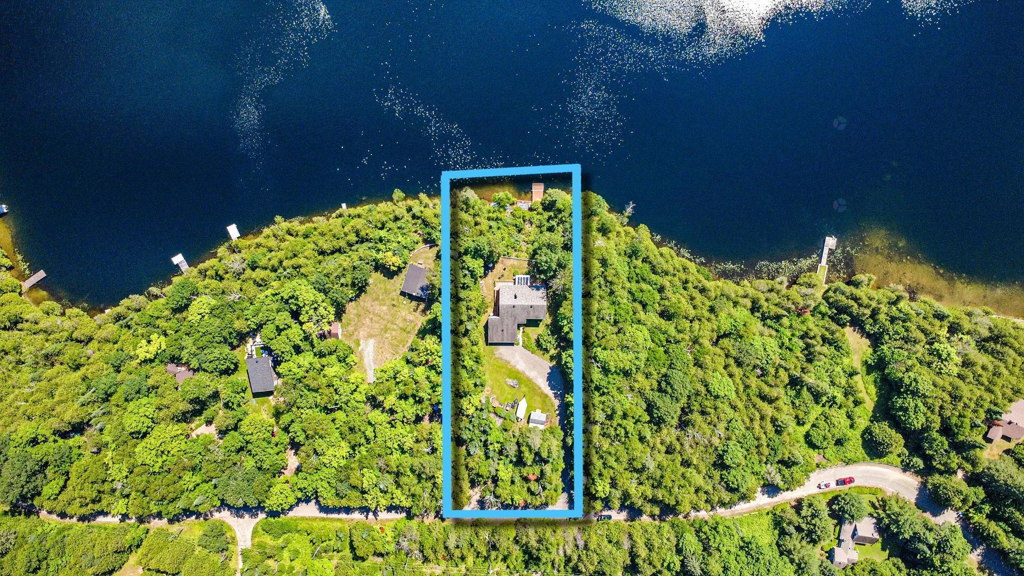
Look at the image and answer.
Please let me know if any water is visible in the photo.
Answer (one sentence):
Yes, there's water in this view.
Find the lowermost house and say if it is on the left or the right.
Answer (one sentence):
The lowermost house is on the right side of the image.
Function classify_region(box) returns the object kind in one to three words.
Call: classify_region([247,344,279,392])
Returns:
building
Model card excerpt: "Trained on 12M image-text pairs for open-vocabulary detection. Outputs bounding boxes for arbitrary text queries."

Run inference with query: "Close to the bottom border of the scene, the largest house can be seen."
[828,514,879,568]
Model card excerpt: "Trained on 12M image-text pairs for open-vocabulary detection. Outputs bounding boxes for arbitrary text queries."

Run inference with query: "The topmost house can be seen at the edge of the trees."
[401,263,429,298]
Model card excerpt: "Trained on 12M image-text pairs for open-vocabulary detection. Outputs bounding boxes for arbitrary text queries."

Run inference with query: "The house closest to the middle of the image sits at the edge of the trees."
[488,275,546,342]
